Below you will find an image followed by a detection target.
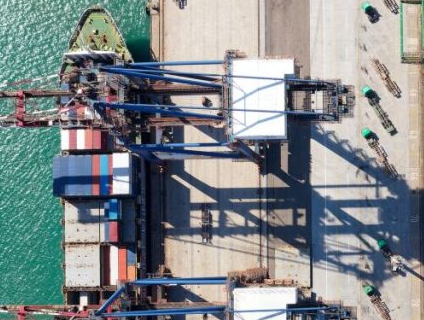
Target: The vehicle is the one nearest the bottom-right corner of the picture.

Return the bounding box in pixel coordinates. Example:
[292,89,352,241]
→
[363,284,393,320]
